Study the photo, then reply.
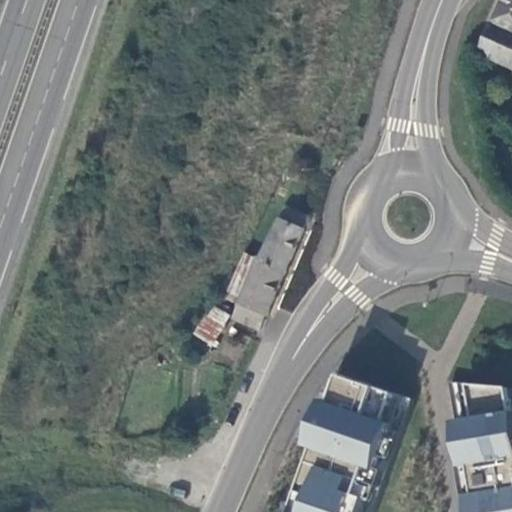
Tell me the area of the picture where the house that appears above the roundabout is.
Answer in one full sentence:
The house that appears above the roundabout sits in the top right section of the image.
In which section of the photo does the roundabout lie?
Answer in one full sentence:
The roundabout is in the right part of the image.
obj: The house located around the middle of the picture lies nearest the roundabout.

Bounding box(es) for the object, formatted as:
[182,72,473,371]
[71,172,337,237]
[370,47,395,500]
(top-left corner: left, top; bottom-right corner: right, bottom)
[225,208,318,332]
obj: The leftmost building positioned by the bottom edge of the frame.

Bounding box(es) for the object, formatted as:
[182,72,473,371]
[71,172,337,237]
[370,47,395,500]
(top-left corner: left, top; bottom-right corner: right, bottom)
[282,372,416,512]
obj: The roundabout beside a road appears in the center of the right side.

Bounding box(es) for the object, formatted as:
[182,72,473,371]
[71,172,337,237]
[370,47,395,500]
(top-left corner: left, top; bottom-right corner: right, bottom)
[324,117,508,311]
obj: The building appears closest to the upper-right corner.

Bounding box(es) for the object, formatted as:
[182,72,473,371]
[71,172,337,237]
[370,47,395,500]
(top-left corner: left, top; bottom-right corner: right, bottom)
[478,27,512,70]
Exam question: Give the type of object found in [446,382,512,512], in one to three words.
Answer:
building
